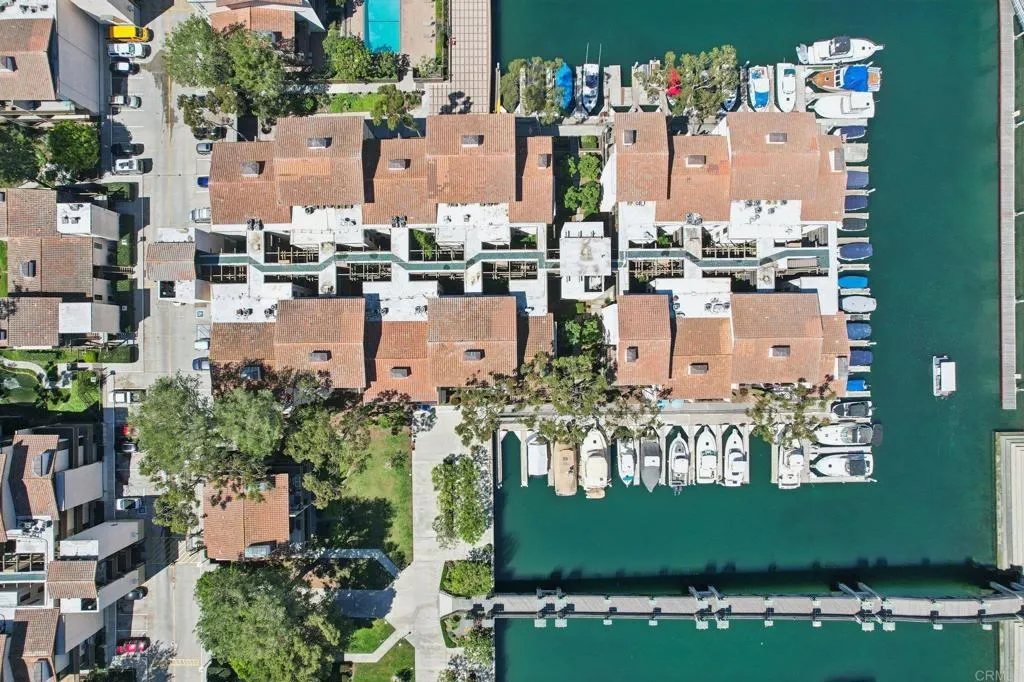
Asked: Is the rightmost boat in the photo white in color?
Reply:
Yes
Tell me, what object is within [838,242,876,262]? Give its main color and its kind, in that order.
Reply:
blue boat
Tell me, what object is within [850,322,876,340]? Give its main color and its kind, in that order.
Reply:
blue boat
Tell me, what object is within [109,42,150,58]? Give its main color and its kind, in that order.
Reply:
white vehicle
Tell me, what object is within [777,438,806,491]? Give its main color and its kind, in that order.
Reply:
white boat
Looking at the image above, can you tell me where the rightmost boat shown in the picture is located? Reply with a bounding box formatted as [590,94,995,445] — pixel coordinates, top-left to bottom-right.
[931,356,964,398]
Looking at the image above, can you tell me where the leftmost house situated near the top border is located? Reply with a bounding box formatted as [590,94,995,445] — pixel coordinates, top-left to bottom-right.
[0,0,98,124]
